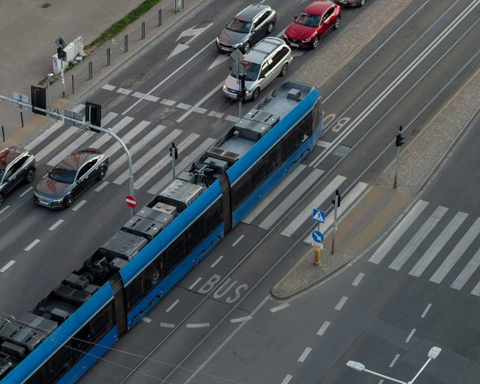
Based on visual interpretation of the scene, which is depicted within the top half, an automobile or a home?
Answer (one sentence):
The feature located within the top half is an automobile.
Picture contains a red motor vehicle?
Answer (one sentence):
Yes, I can see a red motor vehicle in this picture.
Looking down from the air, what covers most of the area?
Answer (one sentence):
For the most part, this view shows paved ground.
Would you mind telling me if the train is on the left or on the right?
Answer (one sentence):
You can find the train on the left side of the picture.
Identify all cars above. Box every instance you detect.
[220,37,295,100]
[33,147,112,207]
[0,146,39,207]
[217,1,280,50]
[284,0,346,48]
